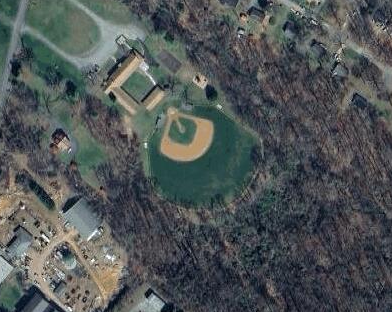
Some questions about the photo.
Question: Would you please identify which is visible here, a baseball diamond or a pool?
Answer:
baseball diamond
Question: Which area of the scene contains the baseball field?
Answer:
center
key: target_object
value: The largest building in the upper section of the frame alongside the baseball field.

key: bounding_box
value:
[103,52,165,115]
